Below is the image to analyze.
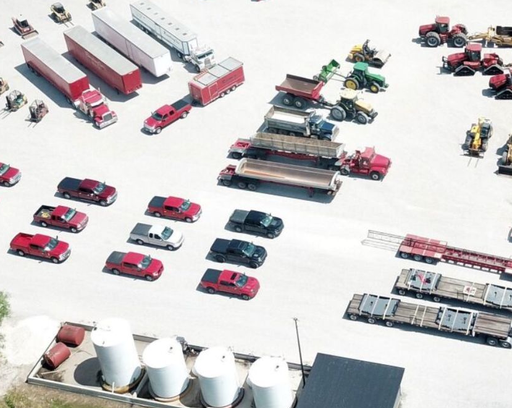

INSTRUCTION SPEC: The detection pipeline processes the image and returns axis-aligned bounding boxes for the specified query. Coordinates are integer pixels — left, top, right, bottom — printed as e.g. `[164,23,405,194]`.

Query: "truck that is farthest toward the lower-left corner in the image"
[12,232,72,262]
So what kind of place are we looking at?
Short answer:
industrial area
